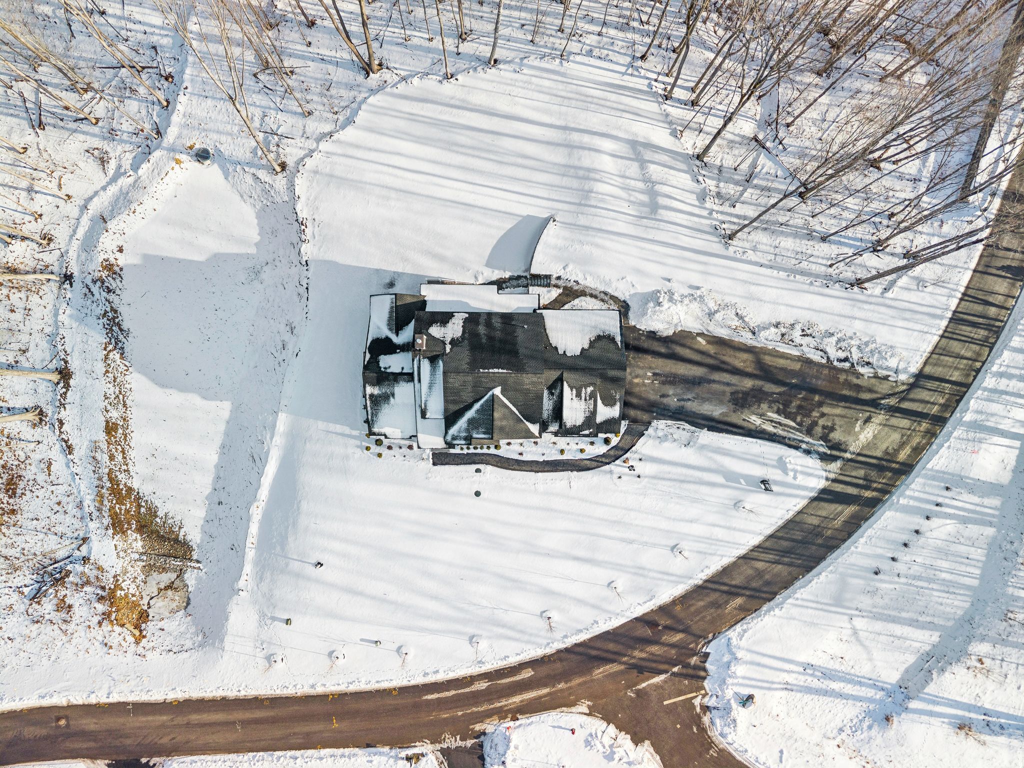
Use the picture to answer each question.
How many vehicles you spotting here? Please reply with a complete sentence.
The photo contains no vehicles.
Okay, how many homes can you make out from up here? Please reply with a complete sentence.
The count comes to 1 home.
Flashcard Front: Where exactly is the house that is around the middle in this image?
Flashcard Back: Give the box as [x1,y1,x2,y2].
[362,277,627,452]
